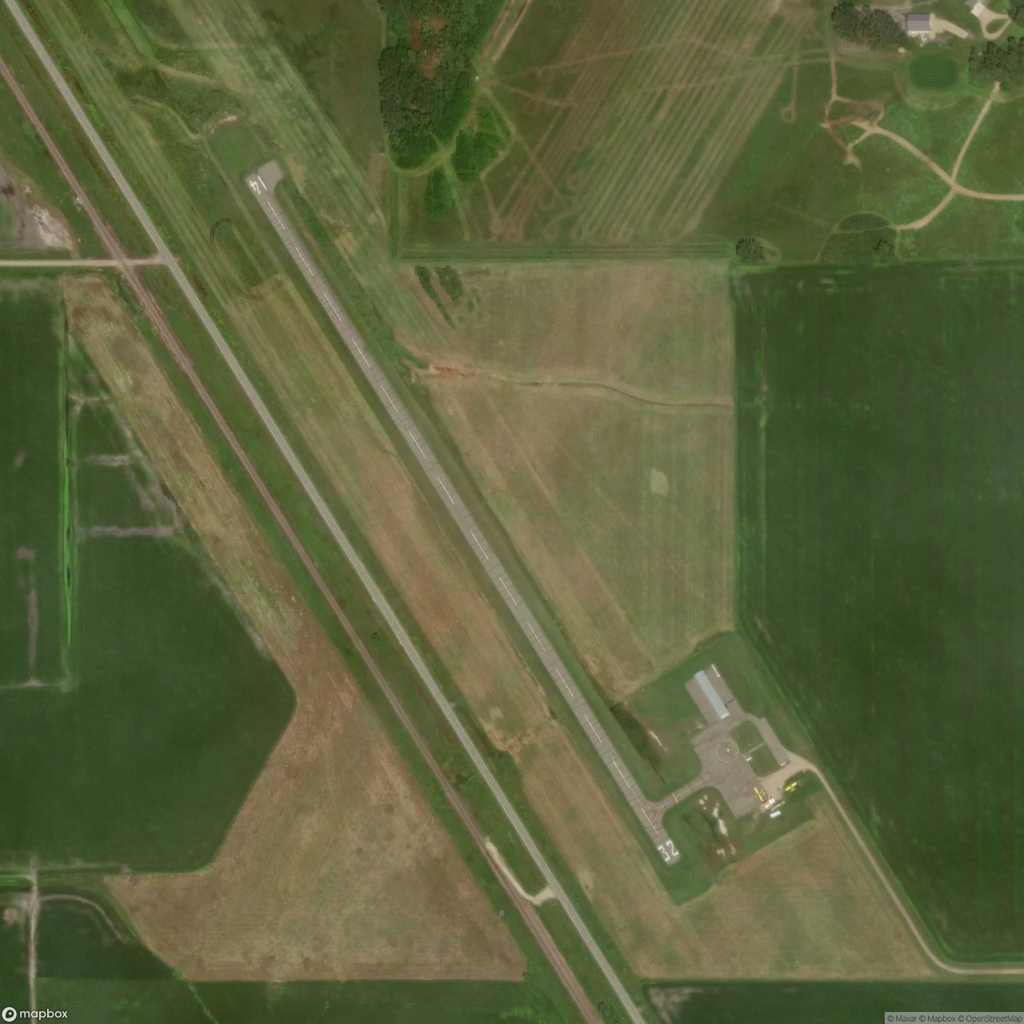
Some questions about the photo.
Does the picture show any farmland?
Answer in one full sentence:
Yes, some farmland is visible.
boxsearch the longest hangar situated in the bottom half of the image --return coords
[693,671,730,718]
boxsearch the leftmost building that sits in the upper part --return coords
[907,13,931,40]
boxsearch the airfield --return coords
[245,161,790,864]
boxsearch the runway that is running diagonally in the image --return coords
[245,161,680,864]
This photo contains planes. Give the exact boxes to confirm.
[785,782,797,791]
[754,787,765,801]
